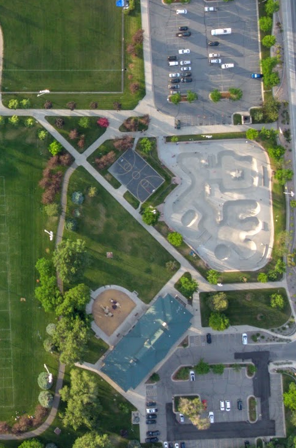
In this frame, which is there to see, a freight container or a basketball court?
basketball court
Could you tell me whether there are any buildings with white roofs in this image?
No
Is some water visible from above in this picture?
No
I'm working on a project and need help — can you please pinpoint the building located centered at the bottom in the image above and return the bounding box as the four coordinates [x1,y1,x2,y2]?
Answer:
[101,294,193,392]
